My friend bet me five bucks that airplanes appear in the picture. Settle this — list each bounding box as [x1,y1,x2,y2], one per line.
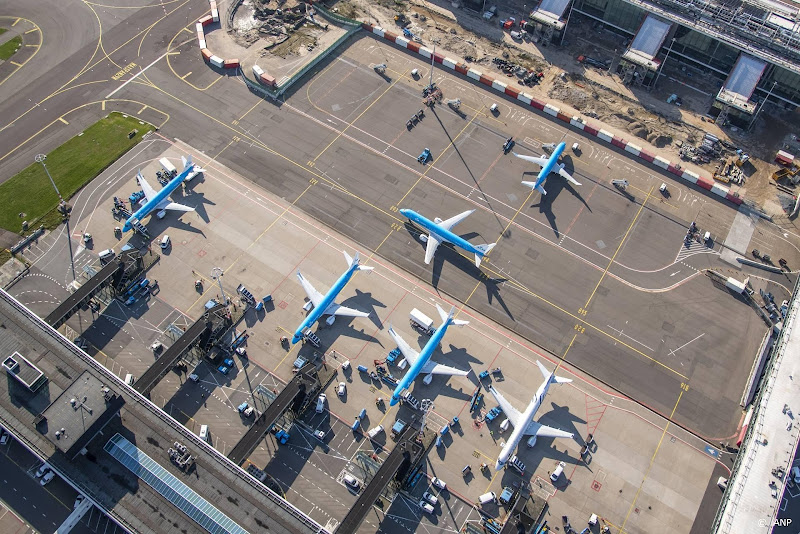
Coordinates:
[123,152,208,230]
[401,208,498,268]
[512,142,583,197]
[294,250,375,341]
[488,361,576,469]
[389,304,470,403]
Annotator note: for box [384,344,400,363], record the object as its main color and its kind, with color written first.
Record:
blue vehicle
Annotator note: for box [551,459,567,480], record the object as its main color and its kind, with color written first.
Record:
white vehicle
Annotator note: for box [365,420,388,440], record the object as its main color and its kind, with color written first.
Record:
white vehicle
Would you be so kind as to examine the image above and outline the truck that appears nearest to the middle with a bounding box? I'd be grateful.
[408,309,438,335]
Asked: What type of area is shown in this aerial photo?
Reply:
airport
